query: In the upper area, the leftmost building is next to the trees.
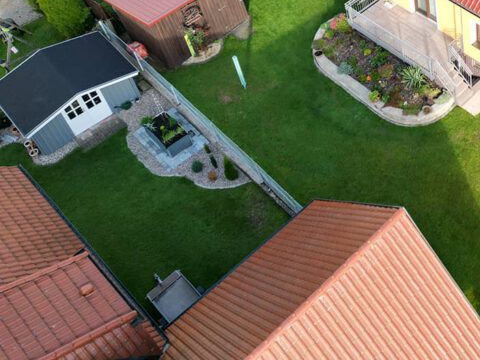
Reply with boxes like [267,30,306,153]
[0,32,148,170]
